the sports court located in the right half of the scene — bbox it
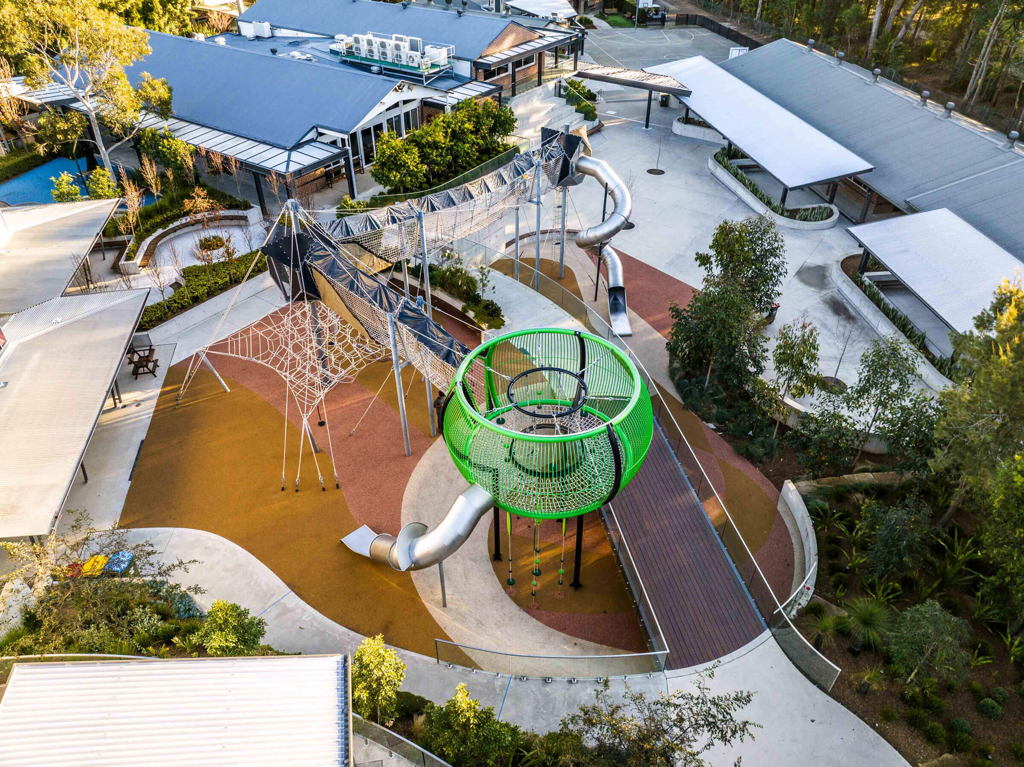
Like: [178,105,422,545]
[582,27,753,99]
